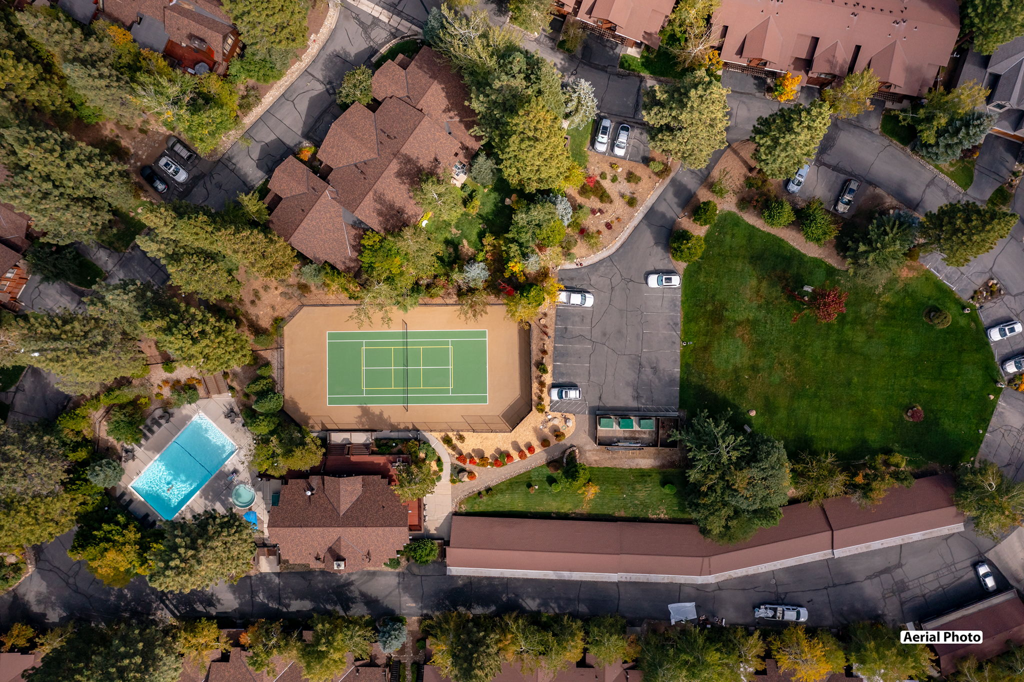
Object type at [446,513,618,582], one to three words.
building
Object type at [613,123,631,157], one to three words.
car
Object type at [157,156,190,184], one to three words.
car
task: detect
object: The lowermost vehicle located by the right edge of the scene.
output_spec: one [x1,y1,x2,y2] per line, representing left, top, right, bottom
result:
[973,561,997,593]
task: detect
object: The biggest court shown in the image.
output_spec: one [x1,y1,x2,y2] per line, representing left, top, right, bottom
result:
[284,306,532,431]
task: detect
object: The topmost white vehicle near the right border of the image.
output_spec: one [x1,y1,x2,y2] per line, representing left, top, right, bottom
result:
[986,320,1023,341]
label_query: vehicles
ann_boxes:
[556,291,594,308]
[647,272,681,289]
[973,561,997,593]
[165,135,198,165]
[613,123,631,157]
[1000,354,1024,373]
[986,320,1023,341]
[786,166,811,195]
[764,603,808,623]
[594,118,612,153]
[157,156,190,184]
[835,179,861,214]
[550,386,581,402]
